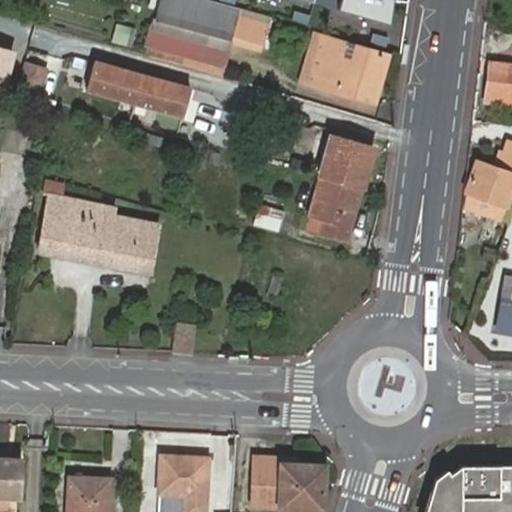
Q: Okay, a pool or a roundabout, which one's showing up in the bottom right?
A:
roundabout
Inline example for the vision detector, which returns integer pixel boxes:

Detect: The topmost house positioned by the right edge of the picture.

[482,61,512,108]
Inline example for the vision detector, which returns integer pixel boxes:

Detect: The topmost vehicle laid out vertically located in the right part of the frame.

[429,30,442,52]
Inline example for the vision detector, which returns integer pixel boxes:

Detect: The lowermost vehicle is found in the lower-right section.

[390,470,402,492]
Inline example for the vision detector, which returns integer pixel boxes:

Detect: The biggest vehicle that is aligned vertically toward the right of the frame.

[423,280,439,372]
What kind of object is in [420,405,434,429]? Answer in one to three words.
car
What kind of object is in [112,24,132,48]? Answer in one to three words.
shed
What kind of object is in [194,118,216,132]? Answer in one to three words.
car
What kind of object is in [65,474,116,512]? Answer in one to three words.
house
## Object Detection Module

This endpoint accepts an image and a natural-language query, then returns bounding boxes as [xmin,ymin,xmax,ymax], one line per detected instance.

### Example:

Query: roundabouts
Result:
[306,284,476,486]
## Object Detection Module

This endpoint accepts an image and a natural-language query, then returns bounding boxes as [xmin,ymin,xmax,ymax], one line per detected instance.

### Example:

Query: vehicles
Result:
[423,280,439,372]
[420,405,434,429]
[390,470,402,492]
[199,104,224,118]
[194,118,216,132]
[100,276,123,286]
[258,406,279,416]
[148,0,158,14]
[354,212,368,238]
[46,72,56,94]
[429,30,442,52]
